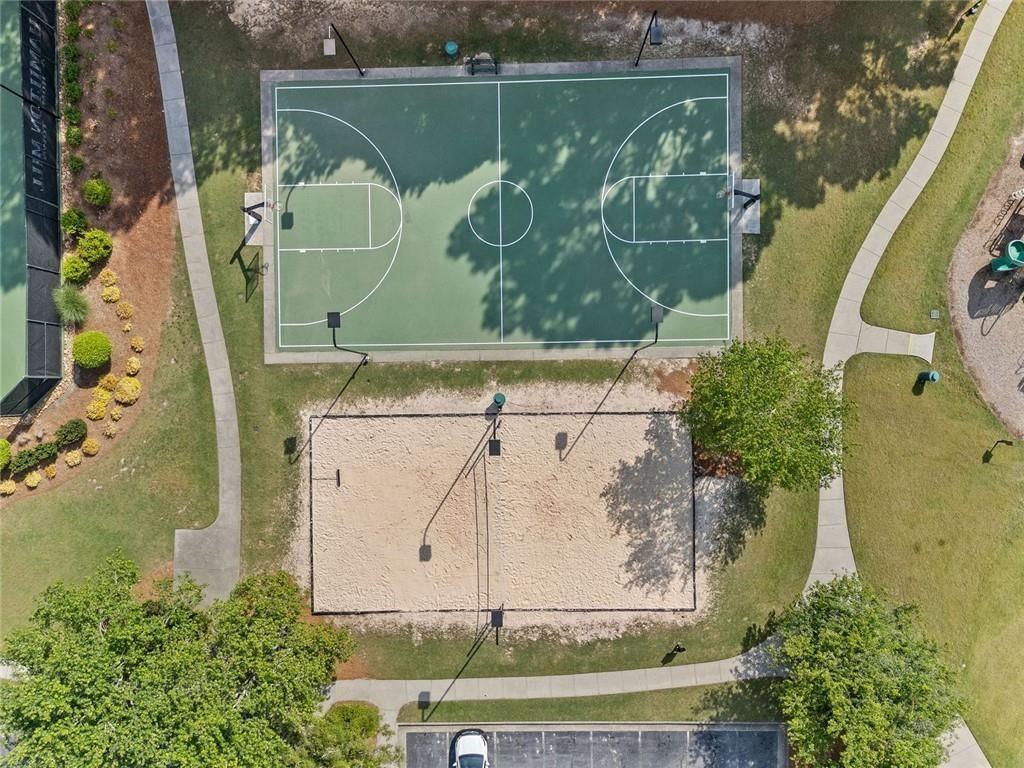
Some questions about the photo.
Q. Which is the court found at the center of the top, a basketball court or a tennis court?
basketball court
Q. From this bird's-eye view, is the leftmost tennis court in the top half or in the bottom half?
top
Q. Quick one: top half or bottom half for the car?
bottom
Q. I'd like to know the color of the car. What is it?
white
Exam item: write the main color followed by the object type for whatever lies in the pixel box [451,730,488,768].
white car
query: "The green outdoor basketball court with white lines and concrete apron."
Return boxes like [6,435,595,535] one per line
[260,56,743,363]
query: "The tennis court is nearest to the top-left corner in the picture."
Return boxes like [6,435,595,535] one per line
[0,0,25,399]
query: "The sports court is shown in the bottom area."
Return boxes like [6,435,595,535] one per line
[309,411,696,614]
